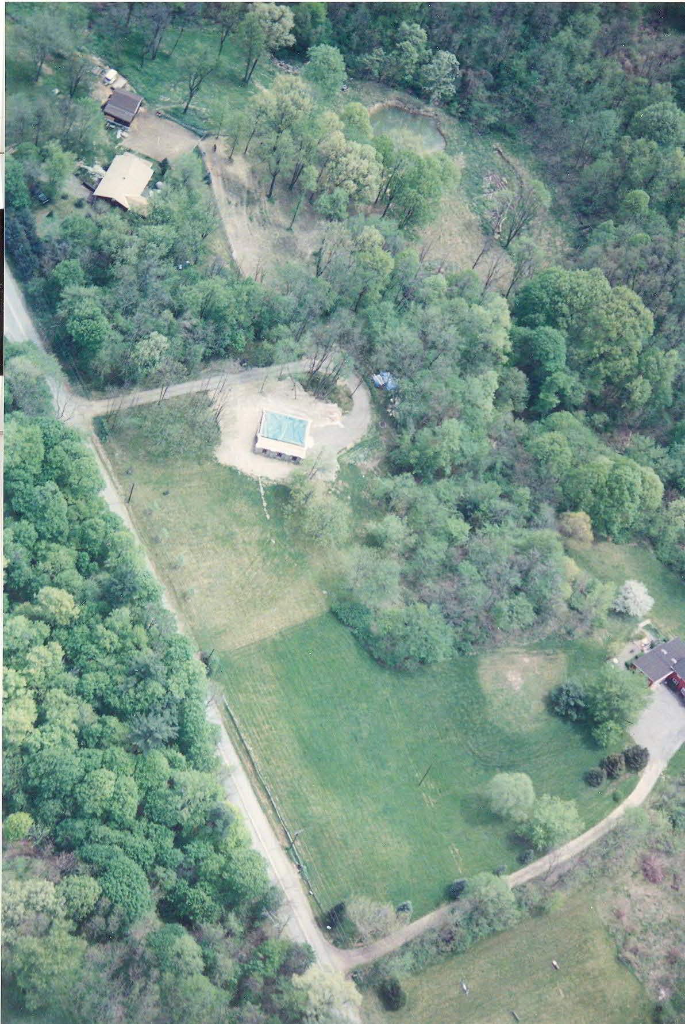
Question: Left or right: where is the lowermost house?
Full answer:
You can find the lowermost house on the right side of the picture.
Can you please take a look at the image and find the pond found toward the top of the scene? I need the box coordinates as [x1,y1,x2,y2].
[371,109,444,155]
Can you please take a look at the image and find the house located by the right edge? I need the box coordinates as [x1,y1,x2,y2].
[635,633,685,692]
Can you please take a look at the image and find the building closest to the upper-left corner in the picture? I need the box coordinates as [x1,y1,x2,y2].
[100,87,144,134]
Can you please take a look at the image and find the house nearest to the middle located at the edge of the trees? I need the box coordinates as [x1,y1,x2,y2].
[254,409,313,464]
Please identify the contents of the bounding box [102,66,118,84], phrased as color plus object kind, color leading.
white vehicle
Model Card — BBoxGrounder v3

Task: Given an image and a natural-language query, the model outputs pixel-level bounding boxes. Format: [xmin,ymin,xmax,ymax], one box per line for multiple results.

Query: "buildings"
[100,87,144,134]
[94,152,151,214]
[635,633,685,692]
[254,409,313,464]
